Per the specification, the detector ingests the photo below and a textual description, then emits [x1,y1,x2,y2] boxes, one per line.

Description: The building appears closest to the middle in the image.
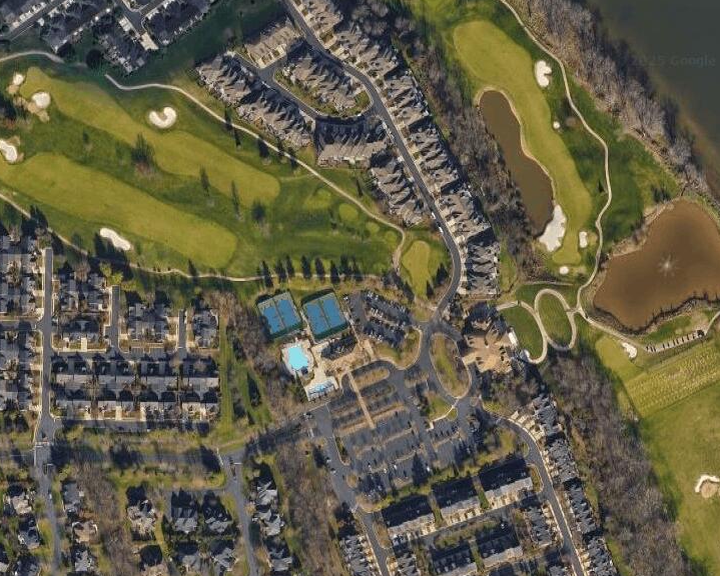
[319,336,361,368]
